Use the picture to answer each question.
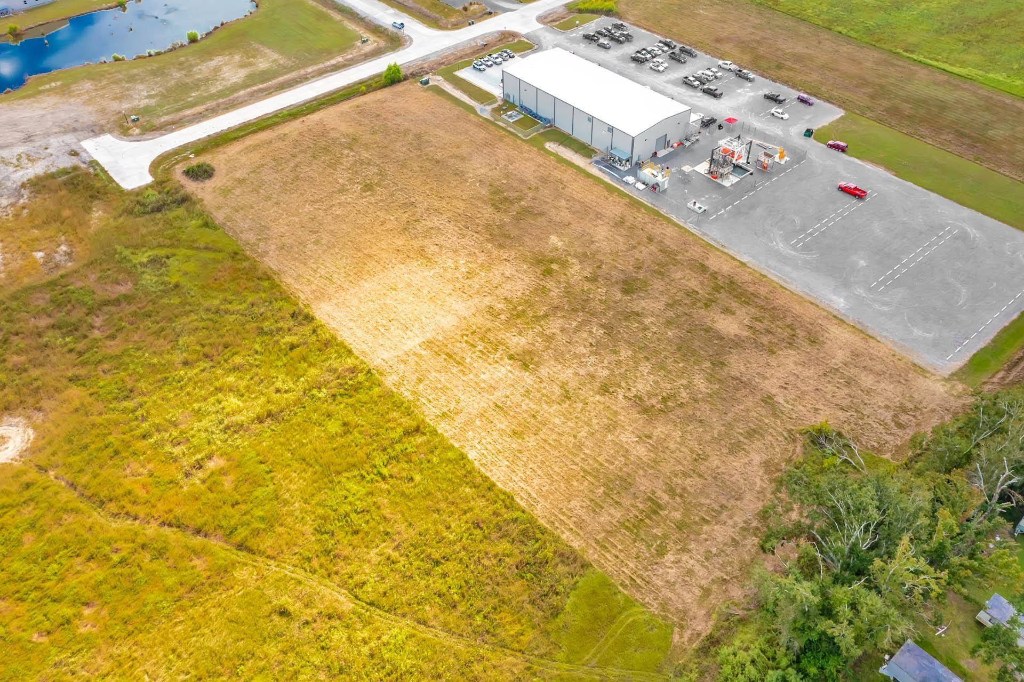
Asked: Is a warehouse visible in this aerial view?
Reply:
Yes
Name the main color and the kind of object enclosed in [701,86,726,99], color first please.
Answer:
gray vehicle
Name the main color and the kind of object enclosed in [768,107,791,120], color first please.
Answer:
white vehicle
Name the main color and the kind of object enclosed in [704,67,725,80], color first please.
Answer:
white vehicle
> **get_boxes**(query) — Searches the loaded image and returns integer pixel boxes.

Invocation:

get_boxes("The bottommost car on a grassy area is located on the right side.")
[826,140,849,153]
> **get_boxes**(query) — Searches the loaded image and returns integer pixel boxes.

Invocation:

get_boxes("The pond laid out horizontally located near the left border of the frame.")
[0,0,258,95]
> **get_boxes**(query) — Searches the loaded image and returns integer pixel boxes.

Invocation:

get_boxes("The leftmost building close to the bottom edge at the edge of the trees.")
[886,640,964,682]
